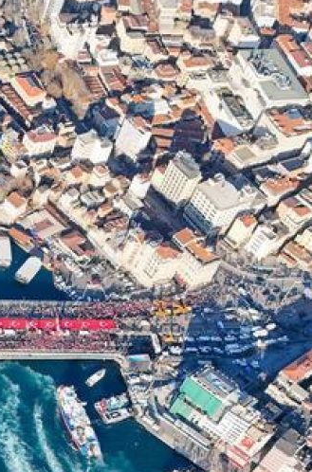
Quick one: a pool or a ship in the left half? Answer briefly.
ship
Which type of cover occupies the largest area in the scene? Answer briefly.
buildings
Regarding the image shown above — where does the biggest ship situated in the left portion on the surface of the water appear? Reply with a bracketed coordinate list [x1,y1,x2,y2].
[52,380,108,461]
